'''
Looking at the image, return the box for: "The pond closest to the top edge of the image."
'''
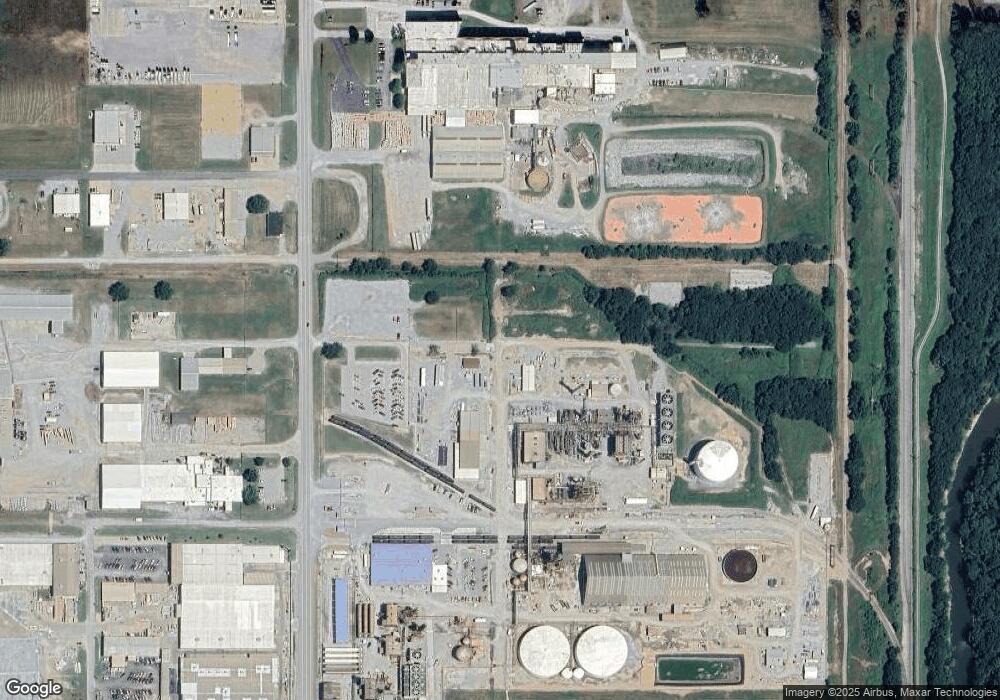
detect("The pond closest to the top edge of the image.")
[604,136,766,189]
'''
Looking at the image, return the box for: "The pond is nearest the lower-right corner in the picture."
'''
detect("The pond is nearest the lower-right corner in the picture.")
[654,655,745,686]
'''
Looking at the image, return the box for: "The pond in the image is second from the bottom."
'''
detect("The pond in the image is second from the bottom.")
[603,193,765,245]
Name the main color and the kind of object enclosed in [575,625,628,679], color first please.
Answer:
white storage tank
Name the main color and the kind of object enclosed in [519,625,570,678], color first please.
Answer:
white storage tank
